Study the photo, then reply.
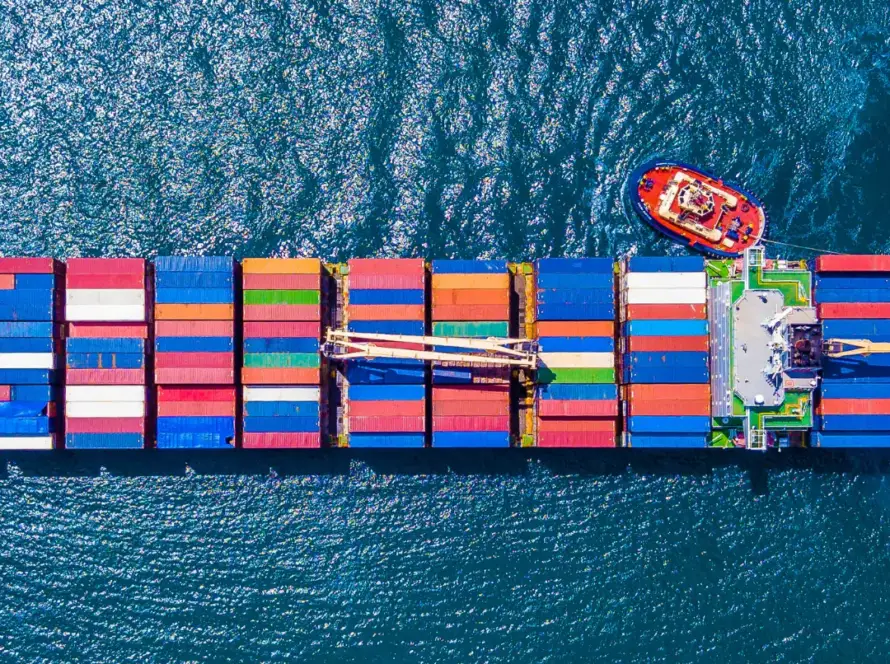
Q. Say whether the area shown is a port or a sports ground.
port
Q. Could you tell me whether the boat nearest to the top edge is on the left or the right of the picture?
right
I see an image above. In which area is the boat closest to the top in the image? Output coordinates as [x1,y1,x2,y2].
[628,163,773,254]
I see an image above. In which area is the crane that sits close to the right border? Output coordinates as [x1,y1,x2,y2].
[807,337,890,360]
